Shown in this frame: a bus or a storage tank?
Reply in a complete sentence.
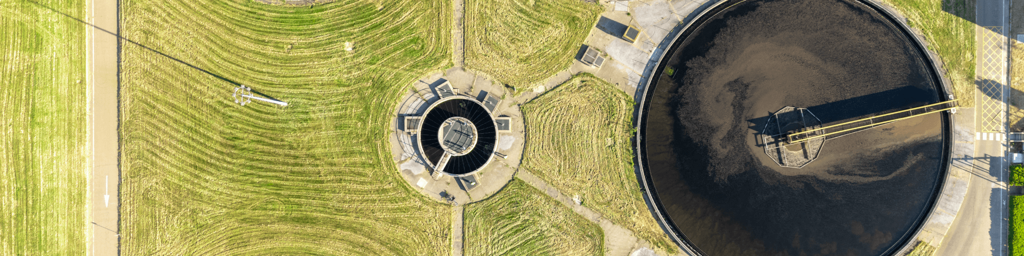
Of the two, only a storage tank appears.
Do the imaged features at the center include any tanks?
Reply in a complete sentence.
Yes, a tank can be seen at the center.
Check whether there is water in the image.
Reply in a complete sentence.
Yes, there is water in the image.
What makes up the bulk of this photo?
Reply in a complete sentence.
The scene is dominated by grass.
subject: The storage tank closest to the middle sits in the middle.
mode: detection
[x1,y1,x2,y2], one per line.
[417,96,498,178]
